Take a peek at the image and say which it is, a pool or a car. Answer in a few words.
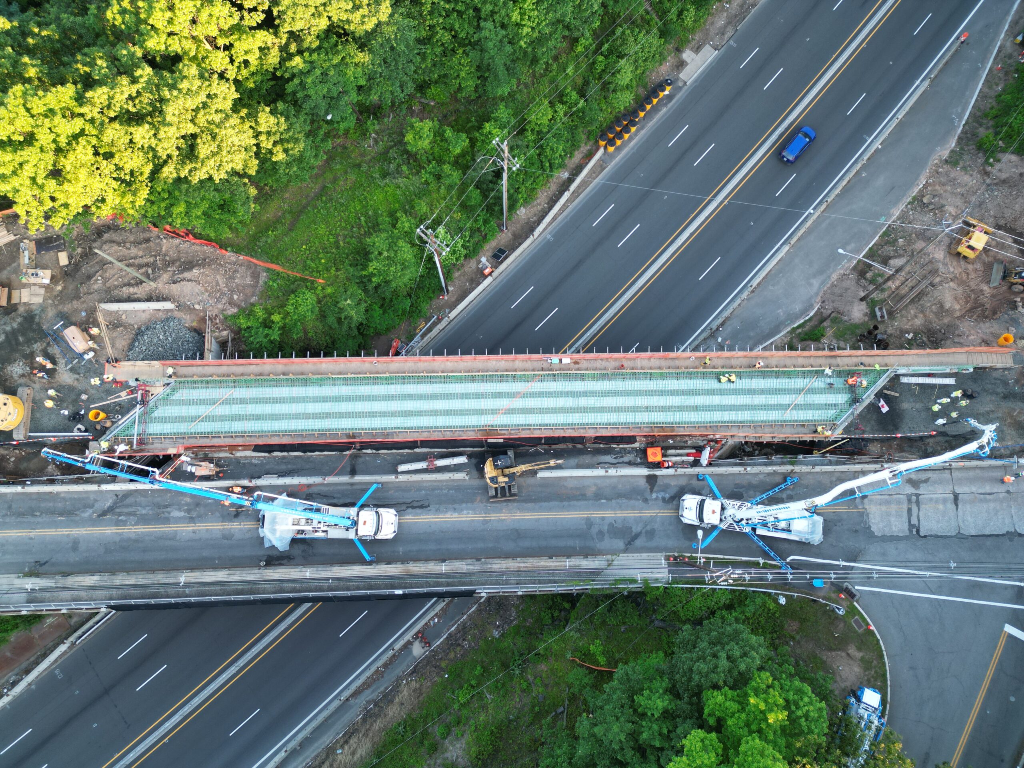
car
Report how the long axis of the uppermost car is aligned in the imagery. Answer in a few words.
diagonally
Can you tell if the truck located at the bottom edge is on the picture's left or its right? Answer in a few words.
right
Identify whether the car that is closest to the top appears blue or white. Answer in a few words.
blue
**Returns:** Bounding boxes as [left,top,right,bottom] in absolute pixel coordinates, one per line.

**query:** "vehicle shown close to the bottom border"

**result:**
[832,679,890,768]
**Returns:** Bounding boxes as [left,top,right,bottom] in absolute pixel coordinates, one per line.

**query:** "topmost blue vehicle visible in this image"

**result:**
[779,128,816,169]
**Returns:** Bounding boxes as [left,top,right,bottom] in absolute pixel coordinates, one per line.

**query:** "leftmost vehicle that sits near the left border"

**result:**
[0,387,36,440]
